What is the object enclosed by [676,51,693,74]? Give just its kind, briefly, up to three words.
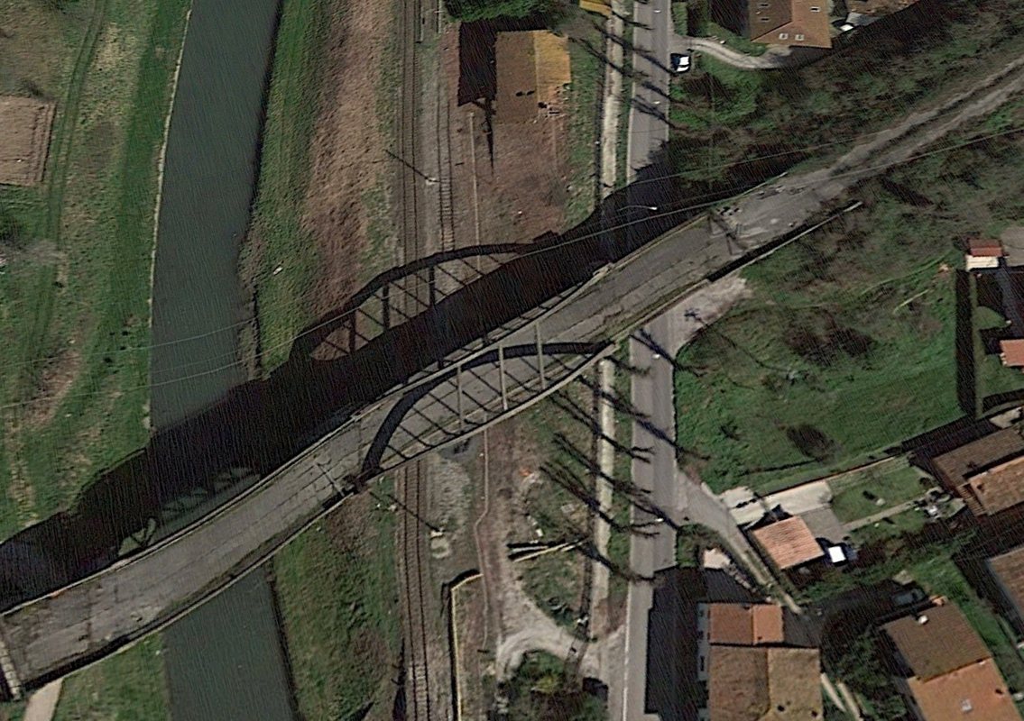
car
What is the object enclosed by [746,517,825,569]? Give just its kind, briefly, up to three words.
building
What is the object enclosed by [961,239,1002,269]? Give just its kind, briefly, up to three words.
shed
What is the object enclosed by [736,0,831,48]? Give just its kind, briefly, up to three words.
house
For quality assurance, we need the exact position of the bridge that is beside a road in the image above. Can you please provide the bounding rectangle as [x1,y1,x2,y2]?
[0,213,717,710]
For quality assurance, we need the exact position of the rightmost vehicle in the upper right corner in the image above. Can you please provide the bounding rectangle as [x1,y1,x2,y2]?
[832,17,859,34]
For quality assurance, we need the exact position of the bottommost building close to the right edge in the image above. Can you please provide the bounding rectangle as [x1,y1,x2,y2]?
[867,599,1024,721]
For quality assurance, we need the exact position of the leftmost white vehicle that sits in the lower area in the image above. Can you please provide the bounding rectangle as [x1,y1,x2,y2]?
[822,544,851,564]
